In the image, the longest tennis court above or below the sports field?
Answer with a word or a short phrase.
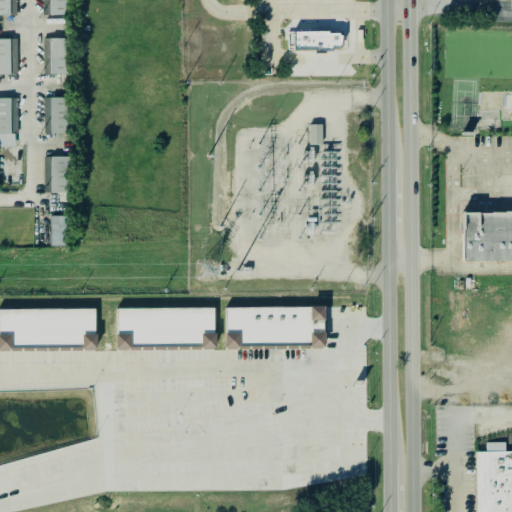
below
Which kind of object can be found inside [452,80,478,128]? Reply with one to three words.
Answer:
tennis court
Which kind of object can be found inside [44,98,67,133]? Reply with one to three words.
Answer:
shed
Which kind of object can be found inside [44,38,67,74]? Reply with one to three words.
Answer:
shed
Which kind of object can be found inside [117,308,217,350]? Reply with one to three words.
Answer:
building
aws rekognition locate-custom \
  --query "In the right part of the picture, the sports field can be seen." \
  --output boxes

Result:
[446,29,512,78]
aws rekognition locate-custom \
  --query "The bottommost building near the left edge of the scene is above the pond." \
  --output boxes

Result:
[0,308,97,350]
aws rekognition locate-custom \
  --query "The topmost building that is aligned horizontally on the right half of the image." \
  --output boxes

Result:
[296,30,344,52]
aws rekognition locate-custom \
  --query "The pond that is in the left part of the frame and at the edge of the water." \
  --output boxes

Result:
[0,400,88,456]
